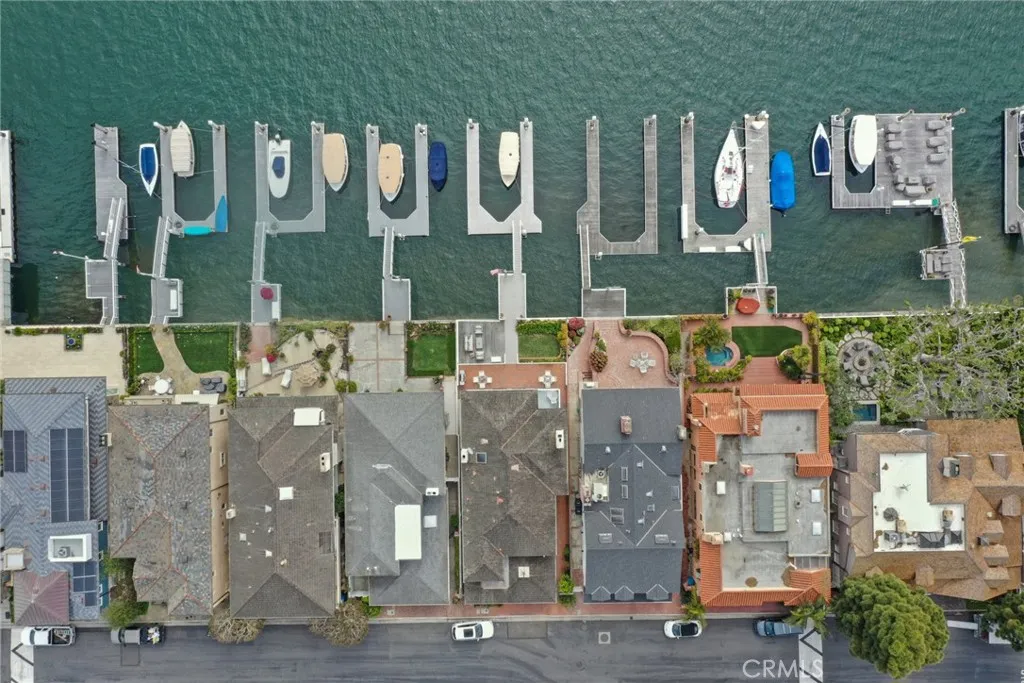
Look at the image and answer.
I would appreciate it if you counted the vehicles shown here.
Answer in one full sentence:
In total, 5 vehicles can be seen.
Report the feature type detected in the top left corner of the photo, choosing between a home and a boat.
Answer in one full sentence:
You can see a boat in the top left corner of the photo.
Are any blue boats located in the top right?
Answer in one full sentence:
Yes, a blue boat appears in the top right.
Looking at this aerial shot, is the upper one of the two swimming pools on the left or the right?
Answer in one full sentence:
The upper one of the two swimming pools sits on the right side.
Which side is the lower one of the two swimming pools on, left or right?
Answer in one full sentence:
The lower one of the two swimming pools sits on the right side.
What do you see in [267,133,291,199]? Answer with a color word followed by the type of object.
white boat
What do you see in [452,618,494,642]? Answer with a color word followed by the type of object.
white car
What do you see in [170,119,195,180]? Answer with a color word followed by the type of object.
white boat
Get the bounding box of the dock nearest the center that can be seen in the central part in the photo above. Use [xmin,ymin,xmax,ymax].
[498,273,526,320]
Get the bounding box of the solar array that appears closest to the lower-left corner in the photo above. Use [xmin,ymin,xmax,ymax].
[73,562,97,606]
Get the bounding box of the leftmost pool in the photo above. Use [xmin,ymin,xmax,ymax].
[705,342,737,369]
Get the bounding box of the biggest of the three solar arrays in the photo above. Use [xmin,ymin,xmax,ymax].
[51,429,84,522]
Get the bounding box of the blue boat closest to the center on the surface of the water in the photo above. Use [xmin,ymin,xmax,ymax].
[429,141,448,192]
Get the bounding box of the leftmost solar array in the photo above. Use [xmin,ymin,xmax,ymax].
[3,431,26,472]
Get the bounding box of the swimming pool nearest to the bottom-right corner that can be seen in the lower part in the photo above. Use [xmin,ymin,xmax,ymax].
[852,403,878,424]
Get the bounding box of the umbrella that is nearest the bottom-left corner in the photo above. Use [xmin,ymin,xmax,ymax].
[297,364,320,387]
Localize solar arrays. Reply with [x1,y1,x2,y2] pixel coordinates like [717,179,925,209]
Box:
[3,431,26,472]
[51,429,84,522]
[73,562,97,606]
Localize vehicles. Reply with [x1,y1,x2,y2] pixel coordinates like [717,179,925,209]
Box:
[663,617,701,640]
[753,614,801,638]
[23,623,78,648]
[113,623,167,648]
[452,618,494,642]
